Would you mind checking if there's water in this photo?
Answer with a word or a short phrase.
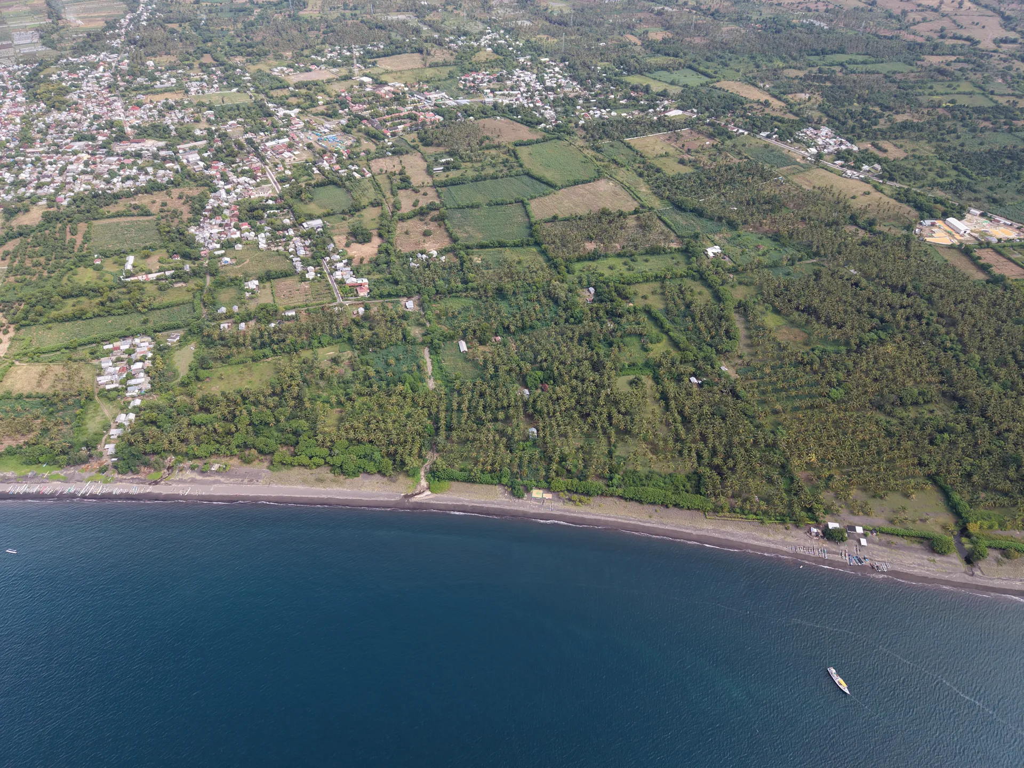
Yes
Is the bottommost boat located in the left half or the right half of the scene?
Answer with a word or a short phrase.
right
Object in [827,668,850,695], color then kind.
white boat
